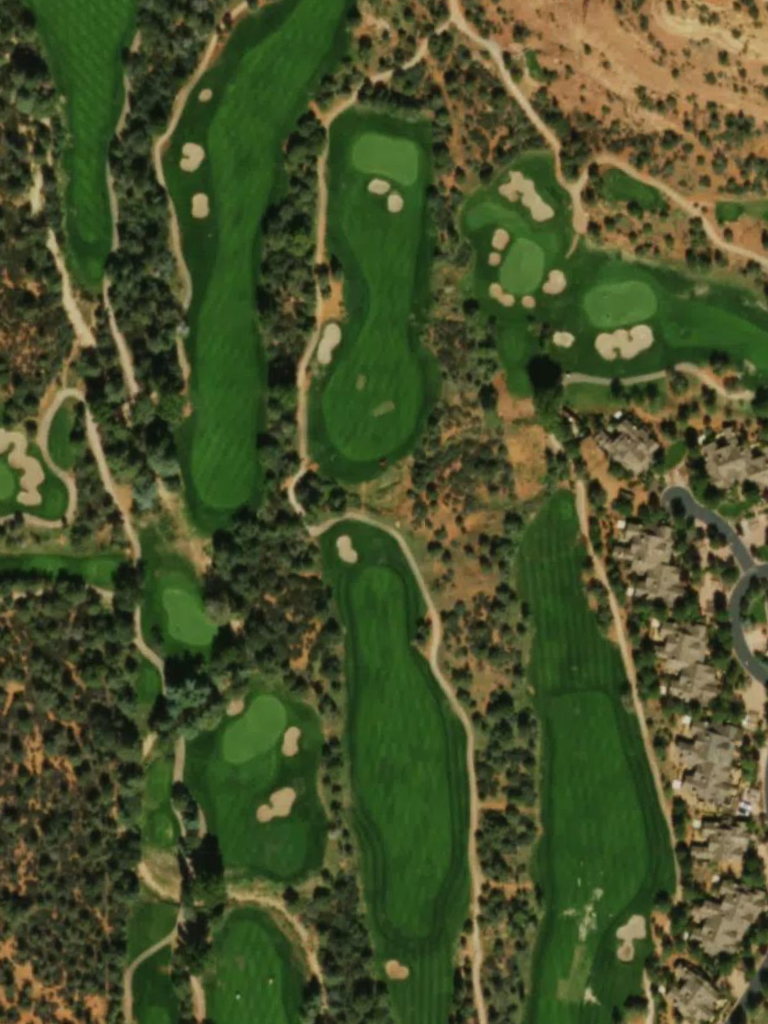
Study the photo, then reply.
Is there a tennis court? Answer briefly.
No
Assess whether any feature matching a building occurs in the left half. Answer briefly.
No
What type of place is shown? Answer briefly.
golf course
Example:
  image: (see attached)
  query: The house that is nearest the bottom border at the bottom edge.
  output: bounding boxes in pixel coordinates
[666,965,723,1024]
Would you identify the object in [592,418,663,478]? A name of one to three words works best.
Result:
house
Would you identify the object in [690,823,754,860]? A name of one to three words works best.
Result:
house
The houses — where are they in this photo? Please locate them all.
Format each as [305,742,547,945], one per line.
[654,623,721,703]
[612,523,690,607]
[699,424,768,489]
[697,882,768,960]
[592,418,663,478]
[690,823,754,860]
[666,965,723,1024]
[678,723,740,806]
